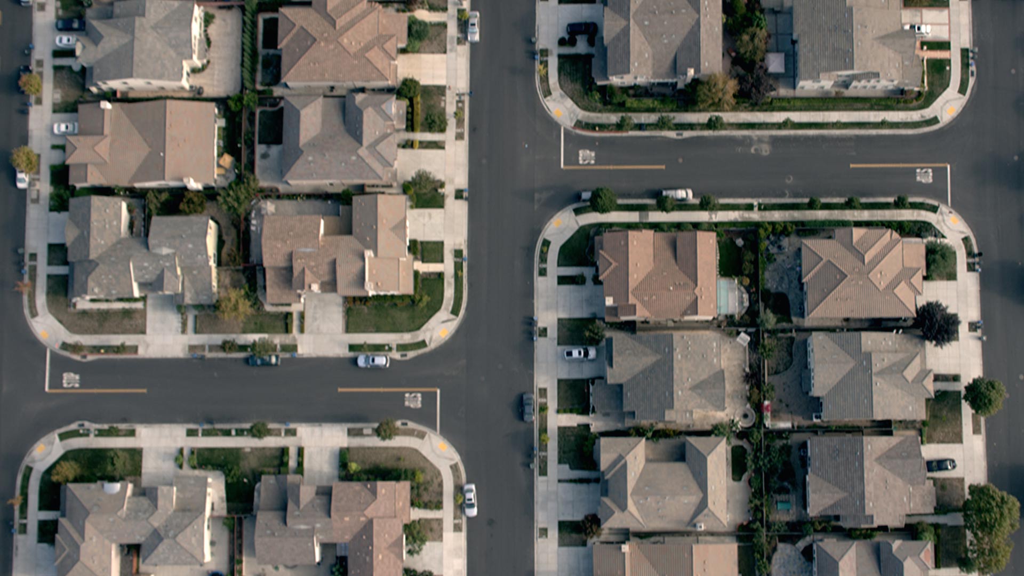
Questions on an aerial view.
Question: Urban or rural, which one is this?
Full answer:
The land in this view is best described as urban.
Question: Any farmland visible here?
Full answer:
No, farmland can't be seen anywhere here.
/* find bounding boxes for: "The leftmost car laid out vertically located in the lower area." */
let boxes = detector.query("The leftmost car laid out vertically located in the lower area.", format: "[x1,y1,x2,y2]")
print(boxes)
[462,485,476,516]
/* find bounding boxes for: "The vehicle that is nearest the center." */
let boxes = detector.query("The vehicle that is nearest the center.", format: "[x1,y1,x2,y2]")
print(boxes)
[565,346,594,361]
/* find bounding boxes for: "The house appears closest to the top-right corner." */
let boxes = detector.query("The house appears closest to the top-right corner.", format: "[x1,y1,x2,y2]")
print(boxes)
[792,0,923,93]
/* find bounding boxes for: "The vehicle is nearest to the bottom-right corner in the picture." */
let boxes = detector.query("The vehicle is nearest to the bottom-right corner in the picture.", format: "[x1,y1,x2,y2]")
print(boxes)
[928,459,957,473]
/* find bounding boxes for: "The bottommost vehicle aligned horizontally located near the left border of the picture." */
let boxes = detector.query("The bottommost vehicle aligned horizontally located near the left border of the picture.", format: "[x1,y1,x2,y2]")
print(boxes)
[51,121,78,134]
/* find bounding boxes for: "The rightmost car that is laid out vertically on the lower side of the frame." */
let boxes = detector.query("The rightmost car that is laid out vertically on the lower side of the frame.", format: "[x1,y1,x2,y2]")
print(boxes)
[521,392,535,422]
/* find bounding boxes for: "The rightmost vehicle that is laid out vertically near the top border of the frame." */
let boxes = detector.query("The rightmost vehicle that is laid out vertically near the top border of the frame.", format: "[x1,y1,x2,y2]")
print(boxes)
[466,13,480,42]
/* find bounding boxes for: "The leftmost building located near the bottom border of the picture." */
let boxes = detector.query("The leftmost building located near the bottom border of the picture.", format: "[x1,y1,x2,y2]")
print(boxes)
[52,476,215,576]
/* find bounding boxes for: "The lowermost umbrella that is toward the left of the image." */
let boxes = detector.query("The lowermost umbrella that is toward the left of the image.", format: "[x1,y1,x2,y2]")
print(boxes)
[261,201,275,214]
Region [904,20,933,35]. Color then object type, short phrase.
white vehicle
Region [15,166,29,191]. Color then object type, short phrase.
white car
